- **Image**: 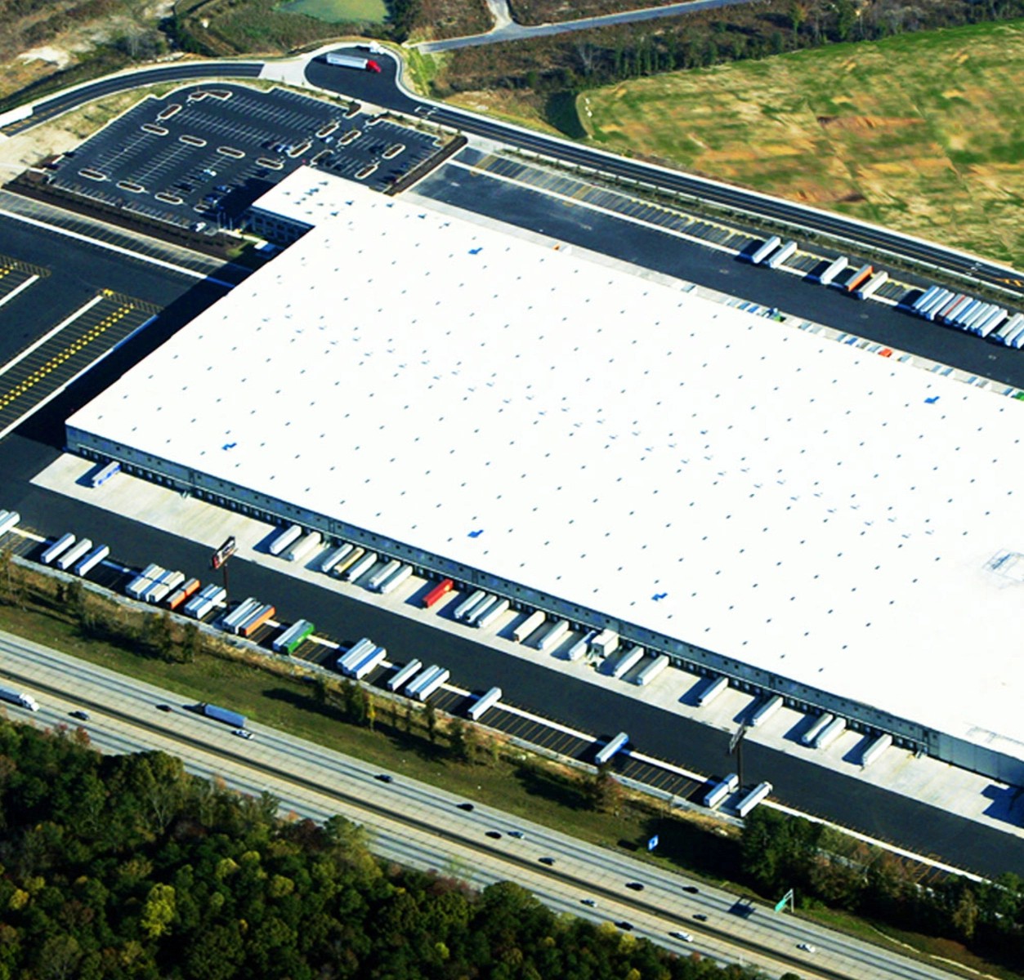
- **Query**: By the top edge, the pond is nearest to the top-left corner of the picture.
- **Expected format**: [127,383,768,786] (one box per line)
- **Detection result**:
[276,0,389,24]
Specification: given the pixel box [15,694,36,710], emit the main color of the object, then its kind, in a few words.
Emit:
white vehicle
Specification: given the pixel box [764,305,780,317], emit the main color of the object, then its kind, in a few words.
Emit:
blue vehicle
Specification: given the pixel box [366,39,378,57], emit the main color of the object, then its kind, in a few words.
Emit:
white vehicle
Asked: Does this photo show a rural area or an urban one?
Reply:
urban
